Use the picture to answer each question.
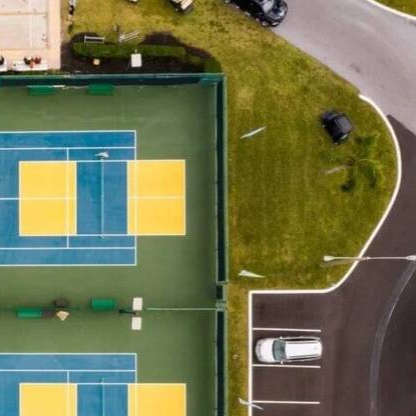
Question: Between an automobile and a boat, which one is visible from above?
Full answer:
This aerial view contains an automobile.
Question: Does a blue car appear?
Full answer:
No, this view has no blue car in it.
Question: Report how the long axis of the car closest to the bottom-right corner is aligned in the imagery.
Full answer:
What the image shows is the car closest to the bottom-right corner lying from left to right.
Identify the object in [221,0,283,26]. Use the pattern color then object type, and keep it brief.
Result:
black car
